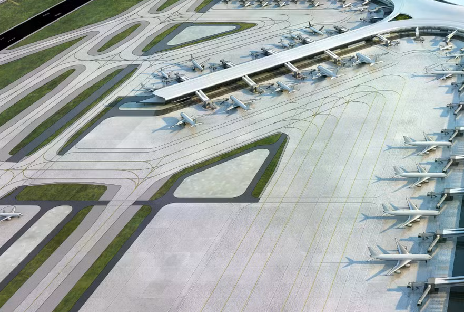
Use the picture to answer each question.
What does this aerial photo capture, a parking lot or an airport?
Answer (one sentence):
The picture captures an airport.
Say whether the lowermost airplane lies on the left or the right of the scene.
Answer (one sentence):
The lowermost airplane is on the right side of the image.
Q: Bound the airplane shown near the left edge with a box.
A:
[0,204,24,220]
